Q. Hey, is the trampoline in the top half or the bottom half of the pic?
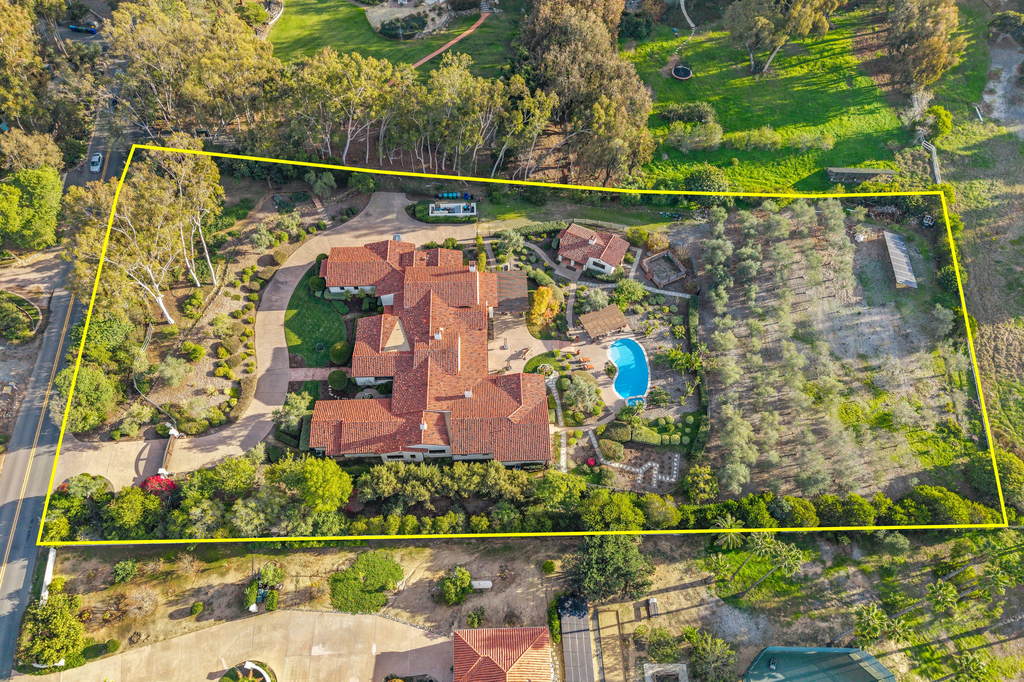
top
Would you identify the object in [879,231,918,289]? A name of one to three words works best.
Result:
solar array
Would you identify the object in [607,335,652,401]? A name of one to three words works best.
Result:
swimming pool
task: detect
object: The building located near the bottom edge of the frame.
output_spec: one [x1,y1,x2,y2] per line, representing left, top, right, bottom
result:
[451,628,551,682]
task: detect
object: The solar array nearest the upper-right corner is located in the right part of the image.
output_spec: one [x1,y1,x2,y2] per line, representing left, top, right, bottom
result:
[826,167,899,182]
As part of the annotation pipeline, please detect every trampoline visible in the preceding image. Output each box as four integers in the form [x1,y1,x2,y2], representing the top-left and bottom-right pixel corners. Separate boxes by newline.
[672,59,694,81]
